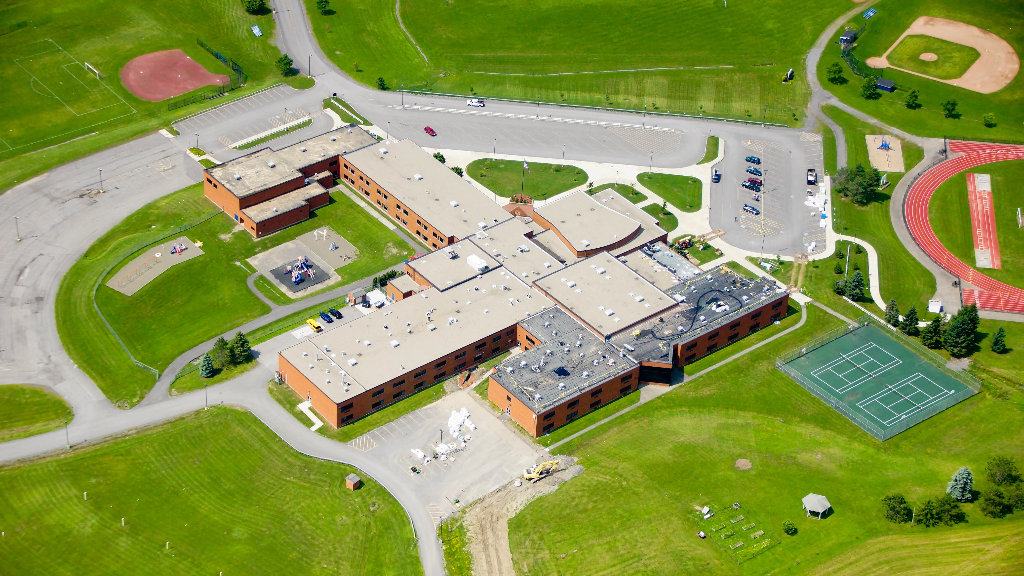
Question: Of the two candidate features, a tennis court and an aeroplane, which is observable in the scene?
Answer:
tennis court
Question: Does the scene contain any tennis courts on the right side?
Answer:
Yes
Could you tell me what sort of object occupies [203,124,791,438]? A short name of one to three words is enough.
building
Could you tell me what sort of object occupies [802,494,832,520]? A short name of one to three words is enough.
gazebo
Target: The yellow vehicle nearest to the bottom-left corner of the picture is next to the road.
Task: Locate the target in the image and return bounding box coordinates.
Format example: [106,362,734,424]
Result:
[305,318,322,331]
